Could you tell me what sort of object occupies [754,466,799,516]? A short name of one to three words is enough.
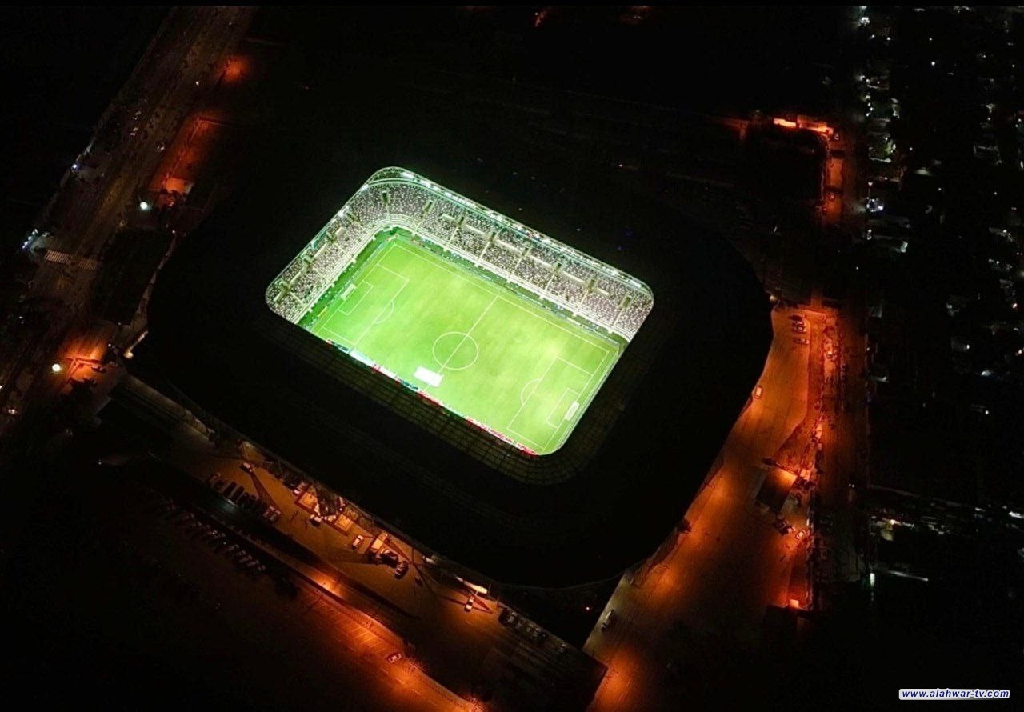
shed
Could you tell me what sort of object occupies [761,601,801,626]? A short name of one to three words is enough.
building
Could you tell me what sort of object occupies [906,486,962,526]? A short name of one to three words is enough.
house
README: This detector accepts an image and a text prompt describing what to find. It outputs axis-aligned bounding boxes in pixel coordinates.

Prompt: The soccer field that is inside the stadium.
[296,228,626,451]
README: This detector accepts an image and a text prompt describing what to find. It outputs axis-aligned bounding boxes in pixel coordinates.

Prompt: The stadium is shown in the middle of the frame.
[138,98,770,649]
